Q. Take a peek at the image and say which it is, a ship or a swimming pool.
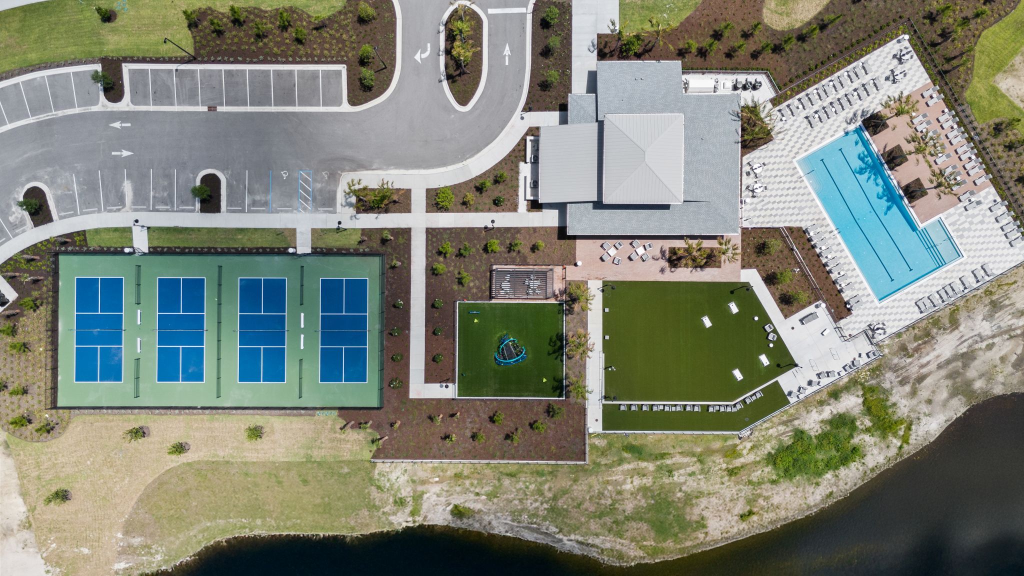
swimming pool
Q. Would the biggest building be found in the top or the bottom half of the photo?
top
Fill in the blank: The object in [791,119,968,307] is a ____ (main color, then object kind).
blue swimming pool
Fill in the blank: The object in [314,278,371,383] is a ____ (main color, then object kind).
blue sports court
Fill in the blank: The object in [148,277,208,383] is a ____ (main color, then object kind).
blue sports court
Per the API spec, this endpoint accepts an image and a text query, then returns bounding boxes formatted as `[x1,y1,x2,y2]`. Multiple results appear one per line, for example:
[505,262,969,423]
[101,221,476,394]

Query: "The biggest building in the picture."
[539,60,741,236]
